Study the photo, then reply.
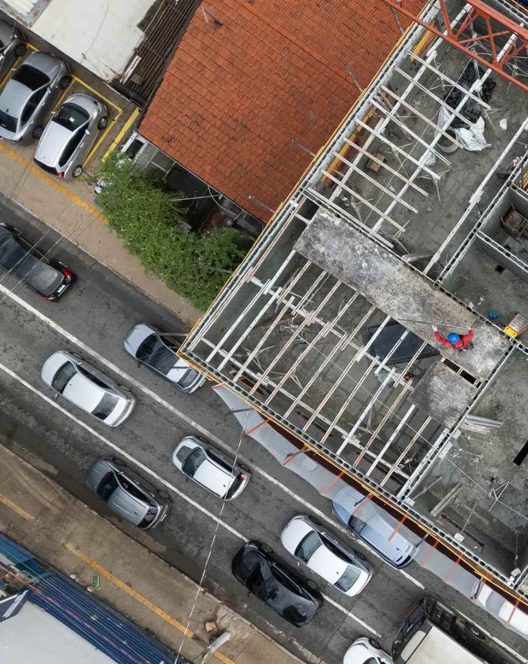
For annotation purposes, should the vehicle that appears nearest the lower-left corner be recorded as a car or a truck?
car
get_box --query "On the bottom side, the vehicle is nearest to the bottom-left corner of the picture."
[86,456,177,532]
